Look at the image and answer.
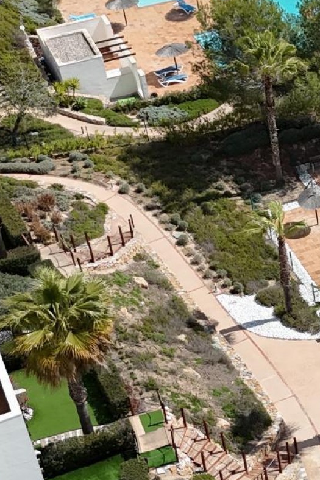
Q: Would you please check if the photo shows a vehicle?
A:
No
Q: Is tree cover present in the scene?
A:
Yes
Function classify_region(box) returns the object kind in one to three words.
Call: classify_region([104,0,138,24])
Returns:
umbrella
